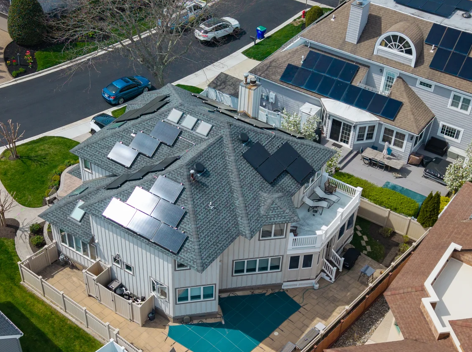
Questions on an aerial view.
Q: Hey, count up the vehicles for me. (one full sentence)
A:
I count 4 vehicles.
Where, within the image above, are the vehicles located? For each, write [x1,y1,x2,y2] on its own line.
[196,15,241,42]
[101,74,153,104]
[156,2,206,31]
[80,115,111,137]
